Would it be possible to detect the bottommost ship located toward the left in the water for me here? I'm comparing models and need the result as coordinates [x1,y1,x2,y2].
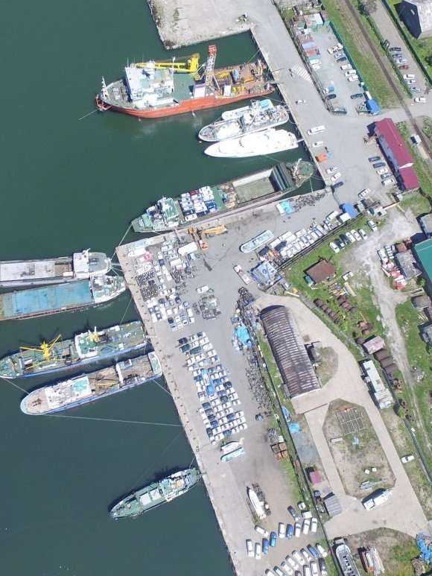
[110,463,205,518]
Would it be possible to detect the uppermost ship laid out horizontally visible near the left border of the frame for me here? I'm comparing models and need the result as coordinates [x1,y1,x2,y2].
[0,248,112,284]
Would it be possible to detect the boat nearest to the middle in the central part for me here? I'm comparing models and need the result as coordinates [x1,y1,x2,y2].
[241,228,275,249]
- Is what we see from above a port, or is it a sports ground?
port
